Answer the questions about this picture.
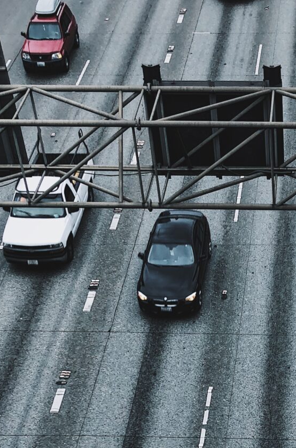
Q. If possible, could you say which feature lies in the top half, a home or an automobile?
automobile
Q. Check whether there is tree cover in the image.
No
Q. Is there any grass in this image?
No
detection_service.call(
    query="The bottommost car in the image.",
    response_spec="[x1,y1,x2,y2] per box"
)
[137,214,215,321]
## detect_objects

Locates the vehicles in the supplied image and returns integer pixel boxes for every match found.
[2,130,91,267]
[137,214,215,321]
[18,2,80,71]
